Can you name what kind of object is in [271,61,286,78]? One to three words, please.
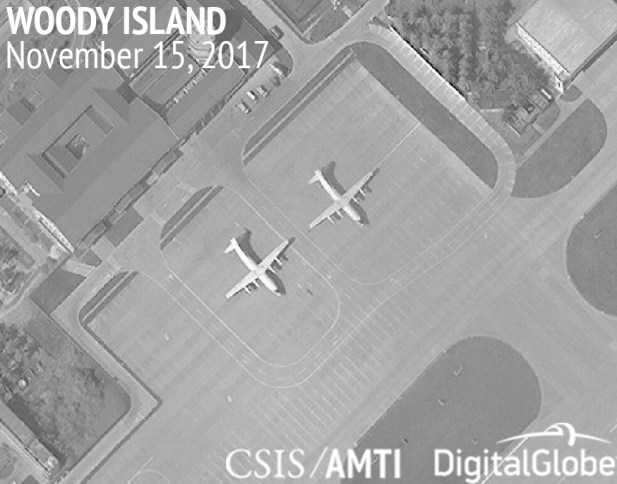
vehicle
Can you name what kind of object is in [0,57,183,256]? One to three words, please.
building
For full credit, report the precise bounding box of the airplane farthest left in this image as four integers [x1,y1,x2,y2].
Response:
[224,235,289,297]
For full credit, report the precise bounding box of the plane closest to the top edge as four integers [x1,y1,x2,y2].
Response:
[308,166,372,227]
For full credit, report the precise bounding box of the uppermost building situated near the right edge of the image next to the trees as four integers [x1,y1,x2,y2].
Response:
[515,0,617,80]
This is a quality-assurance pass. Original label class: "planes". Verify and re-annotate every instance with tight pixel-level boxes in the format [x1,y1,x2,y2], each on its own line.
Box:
[308,166,372,227]
[224,235,289,297]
